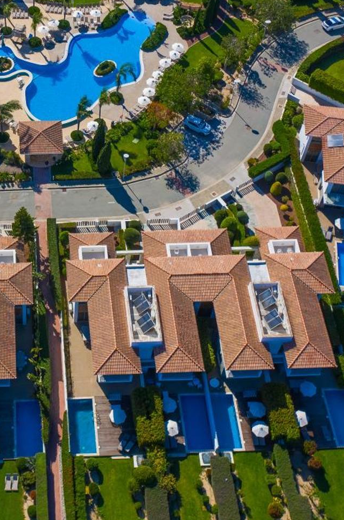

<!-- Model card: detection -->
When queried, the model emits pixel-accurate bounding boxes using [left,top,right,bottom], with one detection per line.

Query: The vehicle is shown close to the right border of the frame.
[322,16,344,30]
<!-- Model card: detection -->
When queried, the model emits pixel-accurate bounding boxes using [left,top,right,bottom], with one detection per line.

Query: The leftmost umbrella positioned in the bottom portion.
[107,407,126,427]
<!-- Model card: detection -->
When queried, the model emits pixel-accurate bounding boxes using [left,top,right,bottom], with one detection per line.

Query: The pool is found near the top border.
[0,8,157,123]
